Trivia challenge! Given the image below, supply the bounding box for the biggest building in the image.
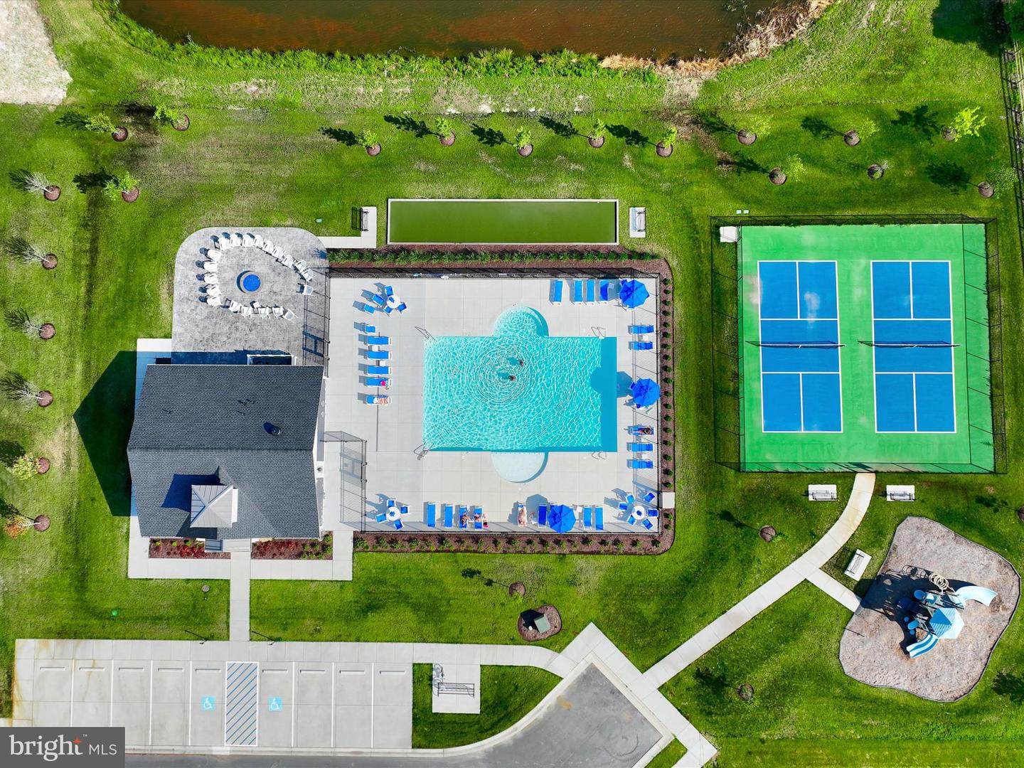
[127,352,328,552]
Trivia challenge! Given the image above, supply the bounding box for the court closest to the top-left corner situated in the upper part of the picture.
[388,199,619,245]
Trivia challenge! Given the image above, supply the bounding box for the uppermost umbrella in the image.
[618,279,648,309]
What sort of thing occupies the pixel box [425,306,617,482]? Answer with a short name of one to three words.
swimming pool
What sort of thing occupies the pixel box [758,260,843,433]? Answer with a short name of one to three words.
sports court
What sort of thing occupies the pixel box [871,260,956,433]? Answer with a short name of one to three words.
sports court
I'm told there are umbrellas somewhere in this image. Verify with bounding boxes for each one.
[547,504,576,533]
[618,279,648,309]
[628,377,659,408]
